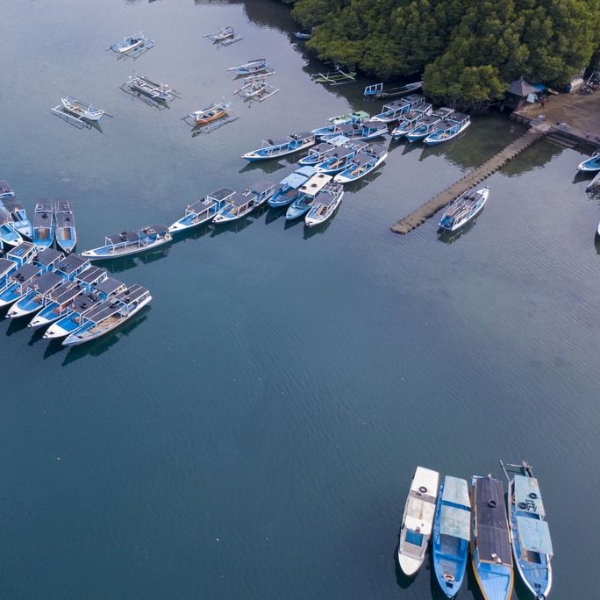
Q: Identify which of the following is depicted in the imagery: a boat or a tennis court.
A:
boat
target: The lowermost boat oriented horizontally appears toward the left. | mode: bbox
[78,223,171,262]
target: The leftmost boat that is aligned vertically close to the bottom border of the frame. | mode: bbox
[396,463,441,576]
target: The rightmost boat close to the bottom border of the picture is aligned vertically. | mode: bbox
[503,474,556,598]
